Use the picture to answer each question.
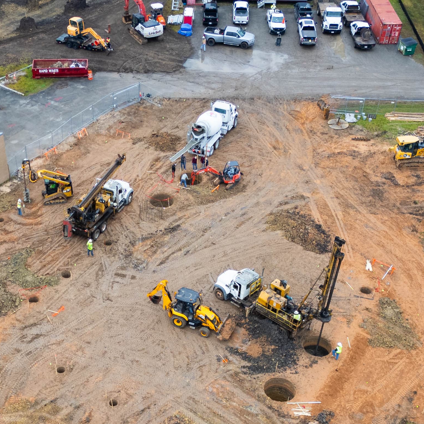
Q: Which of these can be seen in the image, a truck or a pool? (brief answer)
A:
truck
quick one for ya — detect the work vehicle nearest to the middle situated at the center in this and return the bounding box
[189,159,253,192]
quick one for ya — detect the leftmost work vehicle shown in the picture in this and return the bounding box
[11,154,71,206]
